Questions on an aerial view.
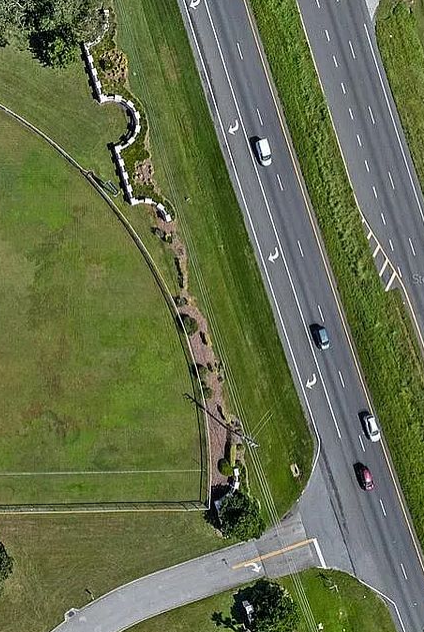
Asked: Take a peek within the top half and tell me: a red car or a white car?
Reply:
white car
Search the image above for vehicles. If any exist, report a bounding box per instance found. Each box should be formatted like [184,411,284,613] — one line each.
[363,413,381,442]
[356,464,373,490]
[314,324,331,350]
[254,138,272,167]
